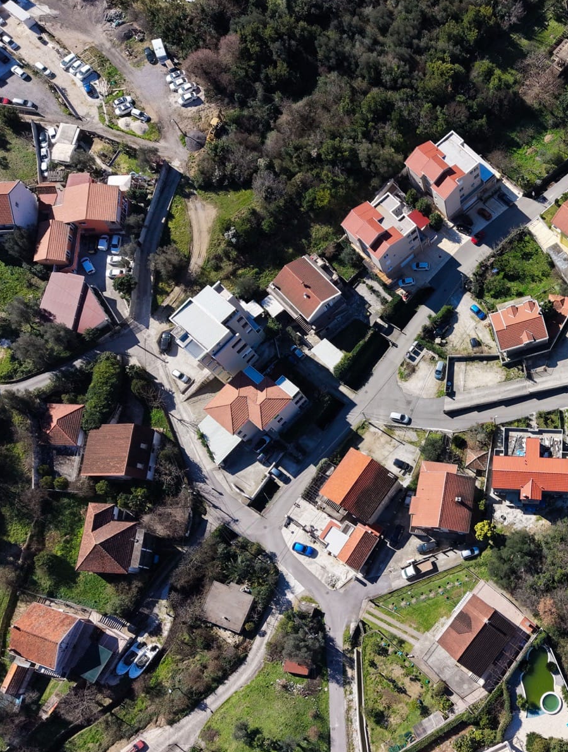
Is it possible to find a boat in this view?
Yes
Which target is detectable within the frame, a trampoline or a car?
car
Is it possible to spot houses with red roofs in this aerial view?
Yes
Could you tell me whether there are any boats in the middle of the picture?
No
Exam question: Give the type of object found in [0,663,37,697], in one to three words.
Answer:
shed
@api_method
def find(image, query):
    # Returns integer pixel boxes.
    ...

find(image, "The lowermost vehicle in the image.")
[126,737,149,752]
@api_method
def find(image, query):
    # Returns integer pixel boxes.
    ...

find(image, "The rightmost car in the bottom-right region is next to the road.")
[459,547,479,560]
